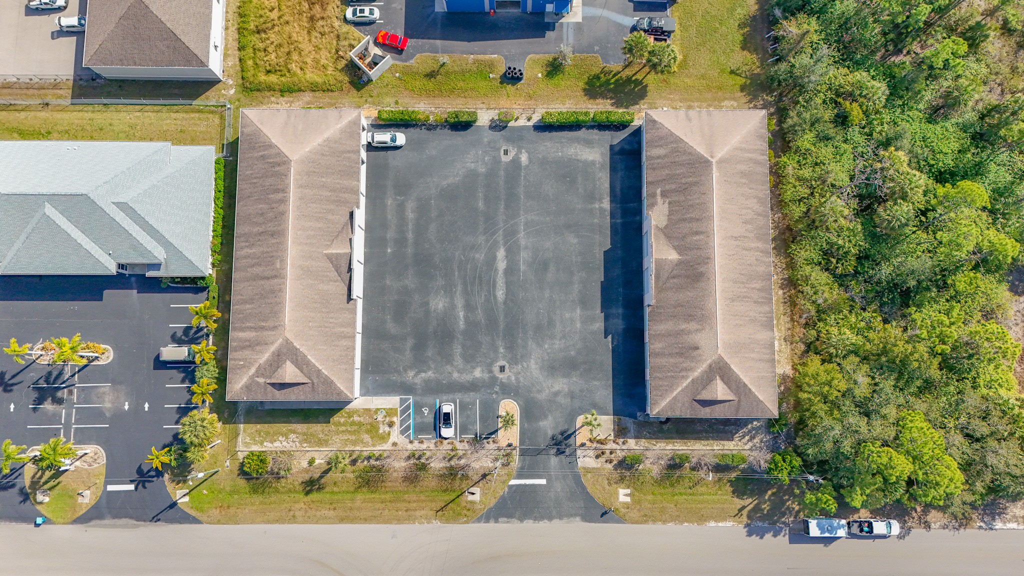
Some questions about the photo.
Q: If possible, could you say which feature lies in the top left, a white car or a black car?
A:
white car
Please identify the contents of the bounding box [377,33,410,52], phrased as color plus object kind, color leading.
red car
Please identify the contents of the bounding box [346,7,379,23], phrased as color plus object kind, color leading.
white car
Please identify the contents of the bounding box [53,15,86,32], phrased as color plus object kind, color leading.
white car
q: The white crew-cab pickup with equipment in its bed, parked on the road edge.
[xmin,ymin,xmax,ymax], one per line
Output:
[848,520,897,538]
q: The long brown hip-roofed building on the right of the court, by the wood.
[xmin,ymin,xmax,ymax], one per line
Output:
[640,109,780,418]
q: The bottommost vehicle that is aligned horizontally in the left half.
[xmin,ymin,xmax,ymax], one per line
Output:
[158,346,199,362]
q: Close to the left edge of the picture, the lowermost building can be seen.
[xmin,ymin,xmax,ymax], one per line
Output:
[0,141,220,277]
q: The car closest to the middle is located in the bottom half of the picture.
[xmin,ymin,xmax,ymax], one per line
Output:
[439,403,455,438]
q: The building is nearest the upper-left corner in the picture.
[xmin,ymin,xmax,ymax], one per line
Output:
[83,0,226,80]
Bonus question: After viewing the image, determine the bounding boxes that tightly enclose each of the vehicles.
[439,403,455,438]
[631,31,667,48]
[370,132,404,148]
[53,15,86,32]
[158,346,199,362]
[377,33,410,52]
[848,520,897,538]
[346,7,379,23]
[29,0,69,10]
[636,15,675,33]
